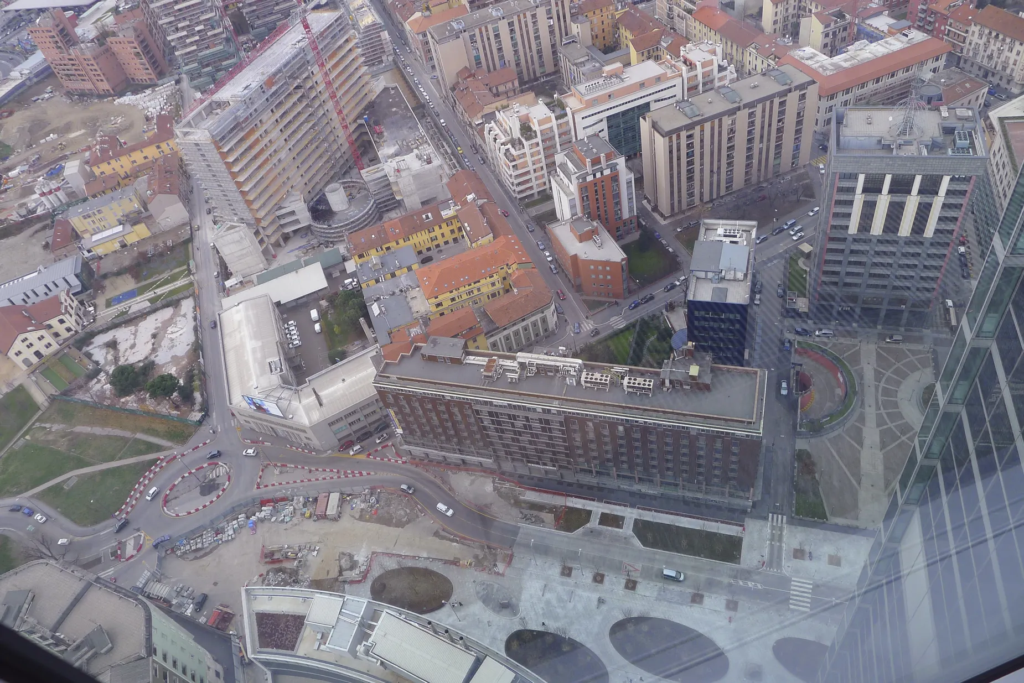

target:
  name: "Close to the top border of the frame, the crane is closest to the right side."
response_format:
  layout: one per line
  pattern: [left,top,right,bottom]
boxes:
[297,0,368,171]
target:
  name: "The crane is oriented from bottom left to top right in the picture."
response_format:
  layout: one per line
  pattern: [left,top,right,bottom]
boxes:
[173,0,323,122]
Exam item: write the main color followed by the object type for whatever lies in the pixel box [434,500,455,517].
white vehicle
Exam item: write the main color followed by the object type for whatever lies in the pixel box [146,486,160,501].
white car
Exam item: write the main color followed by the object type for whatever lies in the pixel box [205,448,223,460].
gray vehicle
